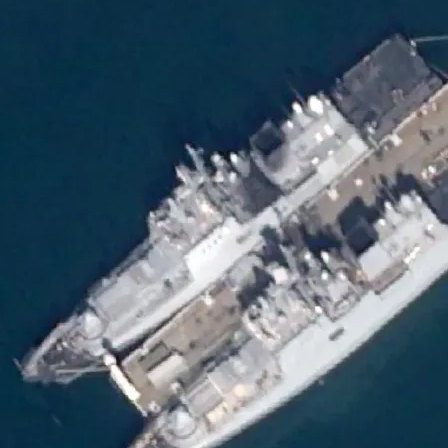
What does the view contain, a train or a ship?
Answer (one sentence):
The image shows a ship.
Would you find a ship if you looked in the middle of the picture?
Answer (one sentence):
Yes, there is a ship in the middle of the picture.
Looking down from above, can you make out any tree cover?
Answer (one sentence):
No, there's no tree cover in this view.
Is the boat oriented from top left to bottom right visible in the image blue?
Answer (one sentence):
No, from above the boat oriented from top left to bottom right looks white.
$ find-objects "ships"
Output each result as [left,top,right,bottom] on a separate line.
[15,39,445,388]
[125,170,448,448]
